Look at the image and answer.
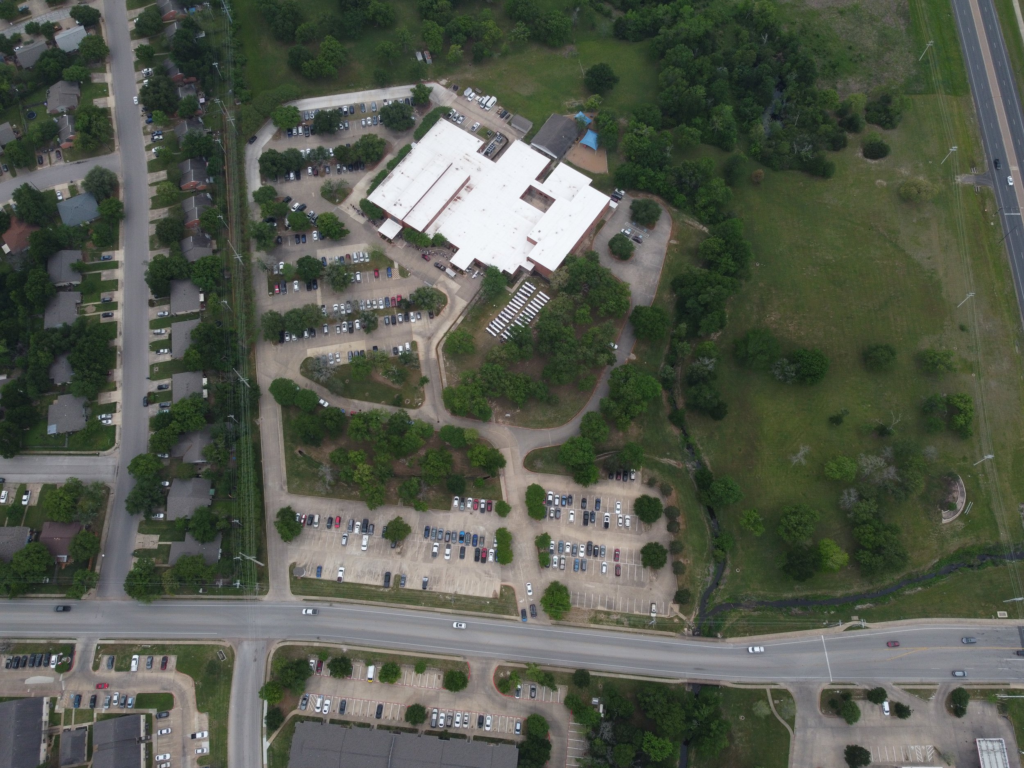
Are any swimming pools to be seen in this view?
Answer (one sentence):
No, no swimming pool is visible in the scene.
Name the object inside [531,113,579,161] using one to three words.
building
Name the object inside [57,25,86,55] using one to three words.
house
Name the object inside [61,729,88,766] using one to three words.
building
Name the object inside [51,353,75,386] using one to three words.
house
